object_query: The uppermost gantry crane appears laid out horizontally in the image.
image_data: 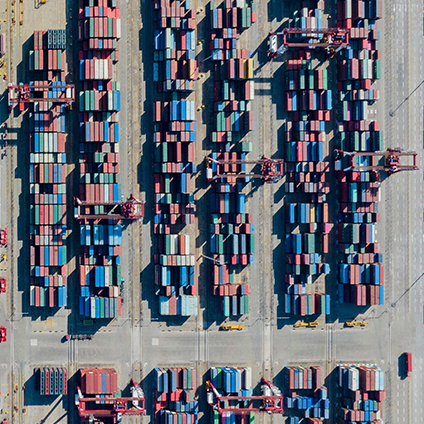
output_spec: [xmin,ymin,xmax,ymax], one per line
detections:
[270,29,351,57]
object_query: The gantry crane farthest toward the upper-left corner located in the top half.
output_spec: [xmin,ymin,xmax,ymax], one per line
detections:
[4,84,76,110]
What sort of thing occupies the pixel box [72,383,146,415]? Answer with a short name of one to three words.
container crane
